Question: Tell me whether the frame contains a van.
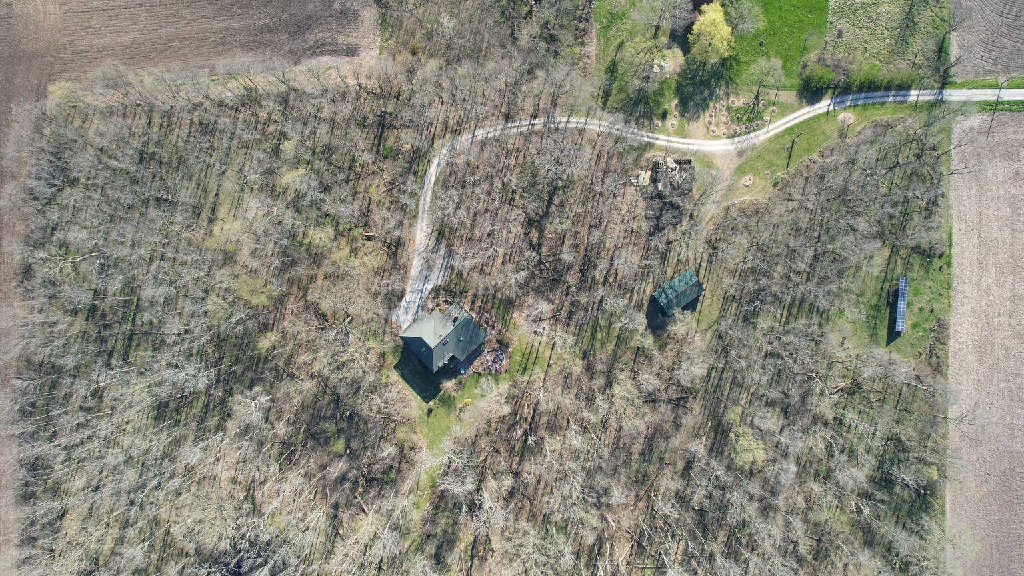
No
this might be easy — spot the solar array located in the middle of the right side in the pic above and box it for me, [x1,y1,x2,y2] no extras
[894,277,908,331]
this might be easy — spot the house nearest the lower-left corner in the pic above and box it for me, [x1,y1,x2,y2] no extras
[399,302,485,372]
